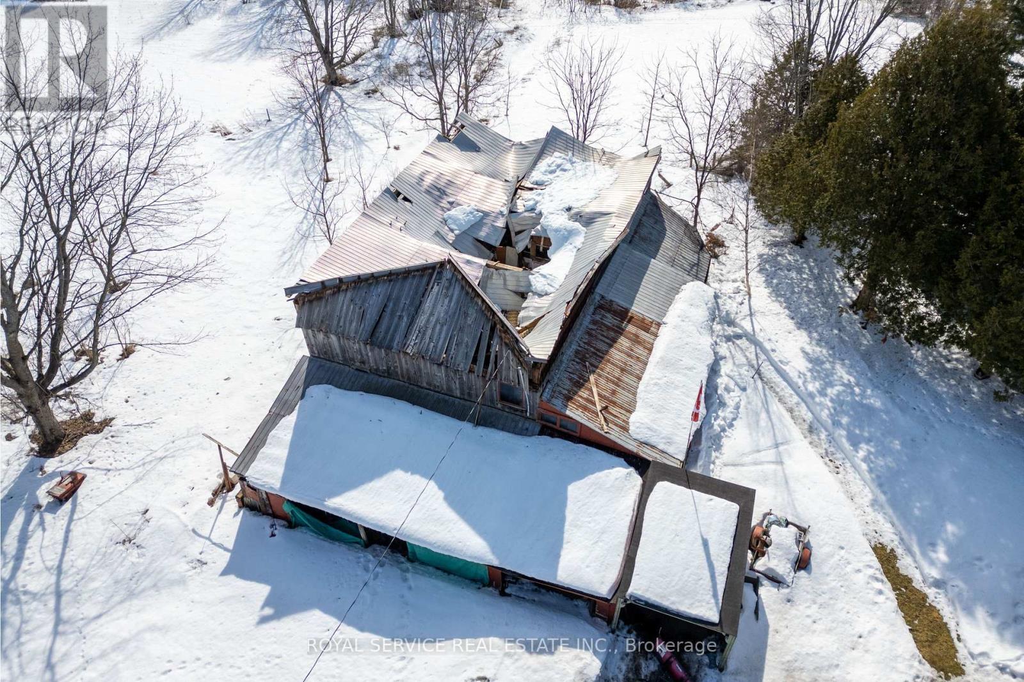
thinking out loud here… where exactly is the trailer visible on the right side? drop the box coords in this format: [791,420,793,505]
[749,509,815,591]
